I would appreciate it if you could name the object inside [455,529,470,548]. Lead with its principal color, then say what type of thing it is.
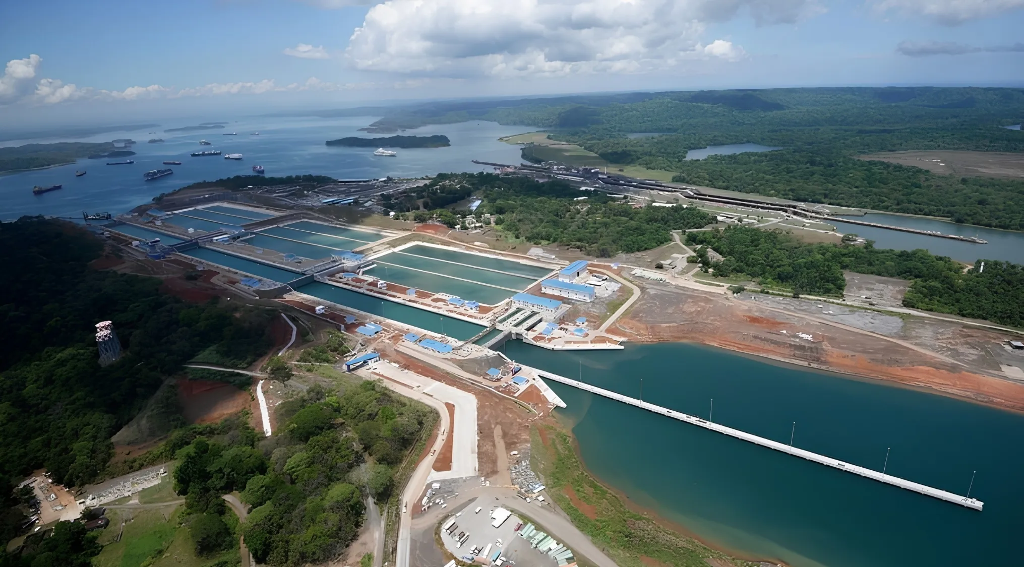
white vehicle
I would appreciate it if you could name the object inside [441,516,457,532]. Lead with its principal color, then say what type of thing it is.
white vehicle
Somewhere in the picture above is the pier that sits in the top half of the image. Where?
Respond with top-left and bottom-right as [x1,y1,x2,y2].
[473,162,990,243]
